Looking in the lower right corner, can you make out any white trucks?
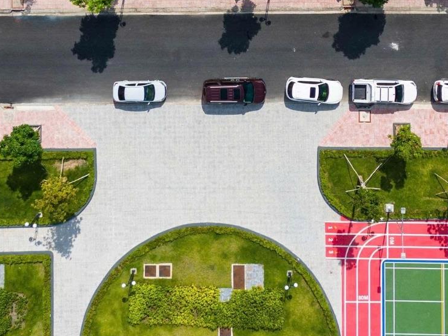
No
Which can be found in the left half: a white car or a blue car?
white car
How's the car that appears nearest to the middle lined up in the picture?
from side to side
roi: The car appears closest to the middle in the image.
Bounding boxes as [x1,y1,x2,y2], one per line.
[202,76,265,108]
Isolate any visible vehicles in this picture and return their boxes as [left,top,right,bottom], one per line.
[284,76,341,107]
[349,79,416,108]
[202,76,265,108]
[113,79,167,106]
[432,79,448,104]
